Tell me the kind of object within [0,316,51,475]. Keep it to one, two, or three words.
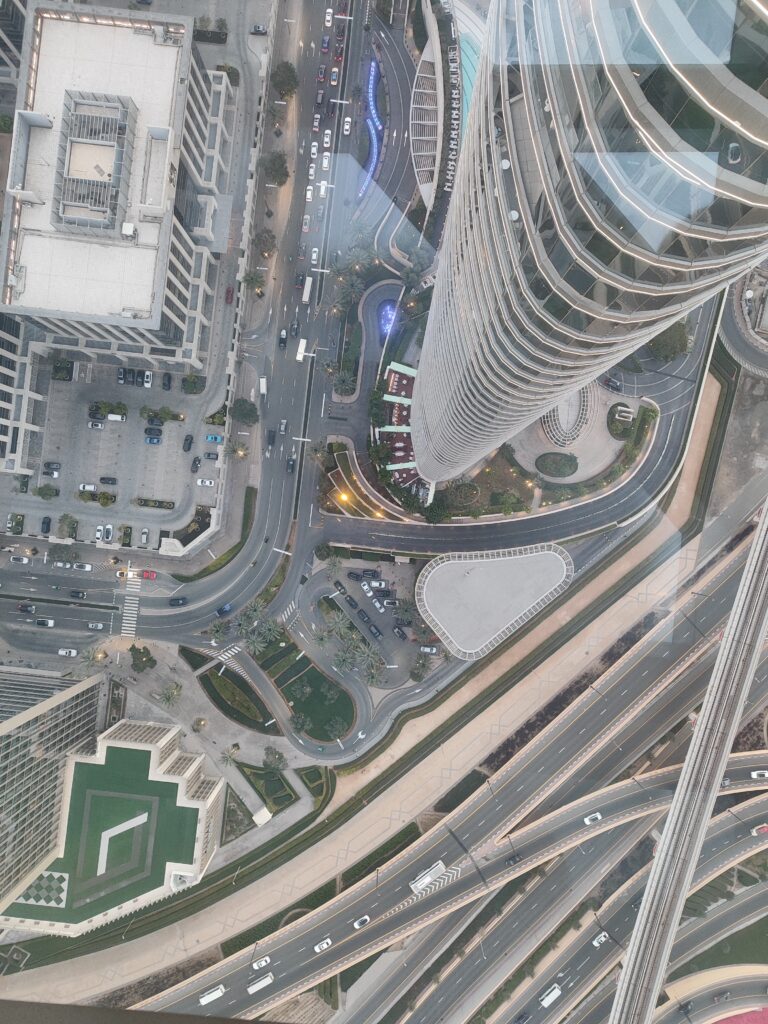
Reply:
building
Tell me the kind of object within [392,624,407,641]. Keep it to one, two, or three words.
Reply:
car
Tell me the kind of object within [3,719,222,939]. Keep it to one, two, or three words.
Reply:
building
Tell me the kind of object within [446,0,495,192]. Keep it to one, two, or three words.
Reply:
swimming pool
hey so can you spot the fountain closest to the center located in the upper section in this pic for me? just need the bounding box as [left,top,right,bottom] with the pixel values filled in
[380,297,397,344]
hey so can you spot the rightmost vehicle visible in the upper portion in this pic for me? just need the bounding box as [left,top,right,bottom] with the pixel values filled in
[604,379,622,391]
